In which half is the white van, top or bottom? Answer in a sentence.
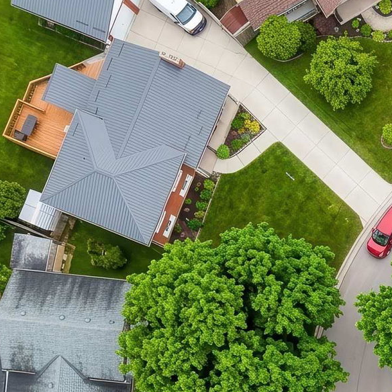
You can find the white van in the top half.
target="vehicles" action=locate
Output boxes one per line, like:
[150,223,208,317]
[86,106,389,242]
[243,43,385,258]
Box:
[368,204,392,259]
[140,0,210,40]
